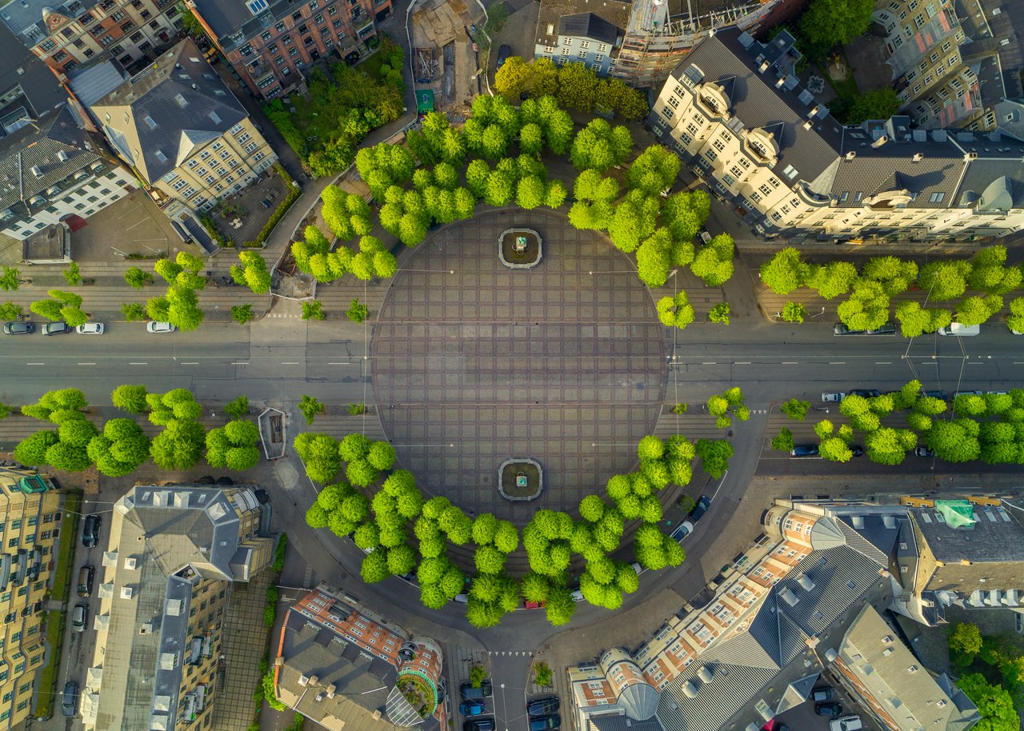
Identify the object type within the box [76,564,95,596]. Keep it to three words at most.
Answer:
car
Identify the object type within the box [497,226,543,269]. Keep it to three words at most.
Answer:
fountain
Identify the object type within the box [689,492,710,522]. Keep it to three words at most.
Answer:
car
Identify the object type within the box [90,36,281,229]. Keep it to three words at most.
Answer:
house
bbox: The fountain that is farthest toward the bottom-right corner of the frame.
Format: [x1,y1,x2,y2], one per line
[497,458,545,502]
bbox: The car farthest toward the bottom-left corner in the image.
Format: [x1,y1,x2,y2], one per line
[62,681,80,713]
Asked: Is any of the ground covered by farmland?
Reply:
No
